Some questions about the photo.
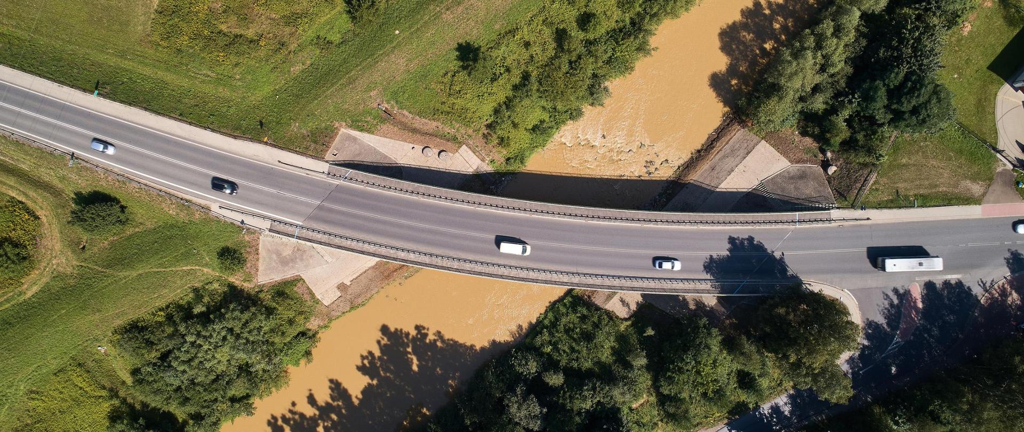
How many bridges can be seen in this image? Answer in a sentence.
The picture shows 1 bridge.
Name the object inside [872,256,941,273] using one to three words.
vehicle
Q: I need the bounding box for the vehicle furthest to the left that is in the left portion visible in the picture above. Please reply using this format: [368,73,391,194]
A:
[89,138,116,153]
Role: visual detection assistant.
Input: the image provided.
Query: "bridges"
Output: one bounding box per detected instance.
[217,161,871,296]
